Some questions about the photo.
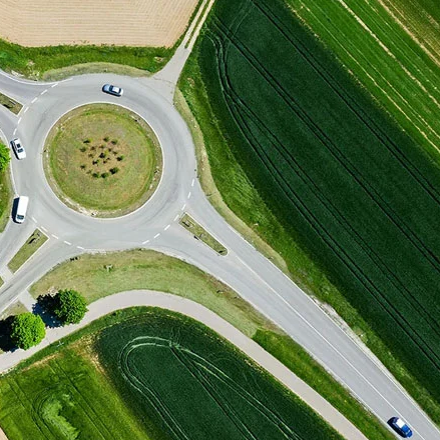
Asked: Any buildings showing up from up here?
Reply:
No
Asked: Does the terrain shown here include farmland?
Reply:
Yes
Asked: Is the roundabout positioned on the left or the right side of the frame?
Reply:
left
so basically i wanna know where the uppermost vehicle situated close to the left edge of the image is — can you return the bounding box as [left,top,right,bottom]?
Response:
[12,139,26,159]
